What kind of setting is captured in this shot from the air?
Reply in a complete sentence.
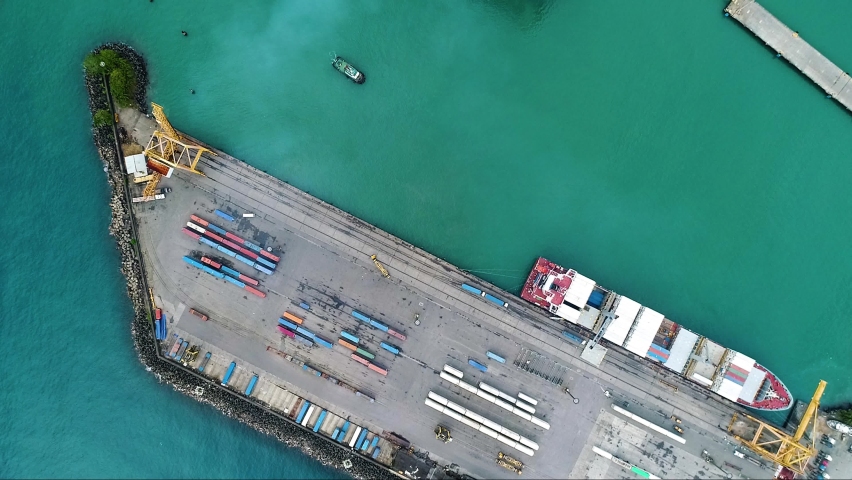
What you see here is a port.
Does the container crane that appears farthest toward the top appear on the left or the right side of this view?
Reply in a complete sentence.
The container crane that appears farthest toward the top appears in the left half of the scene.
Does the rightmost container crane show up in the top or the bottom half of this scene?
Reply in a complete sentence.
Seen from above, the rightmost container crane lies in the bottom half of the view.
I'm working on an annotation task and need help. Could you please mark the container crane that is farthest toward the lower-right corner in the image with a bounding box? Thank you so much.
[732,379,828,480]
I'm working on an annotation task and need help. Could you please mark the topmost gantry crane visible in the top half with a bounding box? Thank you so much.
[140,101,220,202]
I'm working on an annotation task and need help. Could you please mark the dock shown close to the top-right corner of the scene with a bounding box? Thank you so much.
[725,0,852,114]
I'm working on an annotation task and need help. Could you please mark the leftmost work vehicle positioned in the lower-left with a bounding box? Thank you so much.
[181,344,204,364]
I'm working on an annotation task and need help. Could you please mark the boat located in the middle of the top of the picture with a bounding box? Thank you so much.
[333,58,365,84]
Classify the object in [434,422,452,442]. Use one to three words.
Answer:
work vehicle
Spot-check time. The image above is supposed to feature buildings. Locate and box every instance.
[392,447,440,480]
[125,154,151,178]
